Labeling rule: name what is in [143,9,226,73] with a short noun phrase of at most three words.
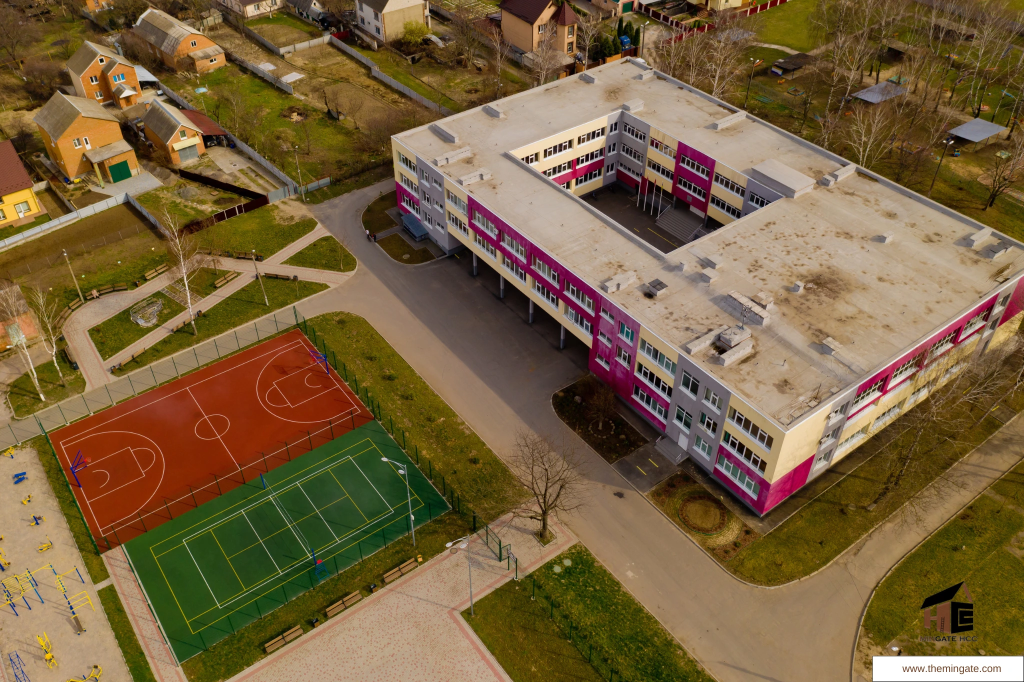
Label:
house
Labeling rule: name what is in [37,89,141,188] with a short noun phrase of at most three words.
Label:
house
